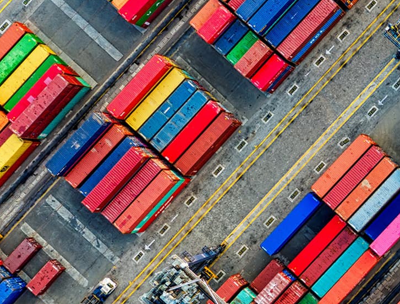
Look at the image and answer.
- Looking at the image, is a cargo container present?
Yes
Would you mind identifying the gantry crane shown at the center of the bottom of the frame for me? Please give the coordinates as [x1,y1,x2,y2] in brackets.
[135,231,251,304]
